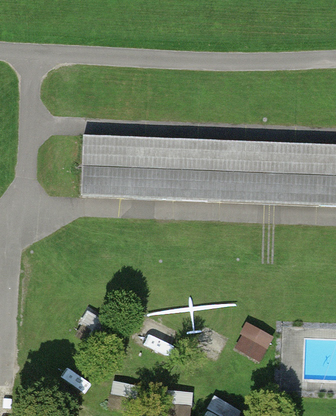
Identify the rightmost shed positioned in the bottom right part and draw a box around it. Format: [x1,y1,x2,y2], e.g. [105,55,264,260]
[232,322,273,362]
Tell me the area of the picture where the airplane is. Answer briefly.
bottom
